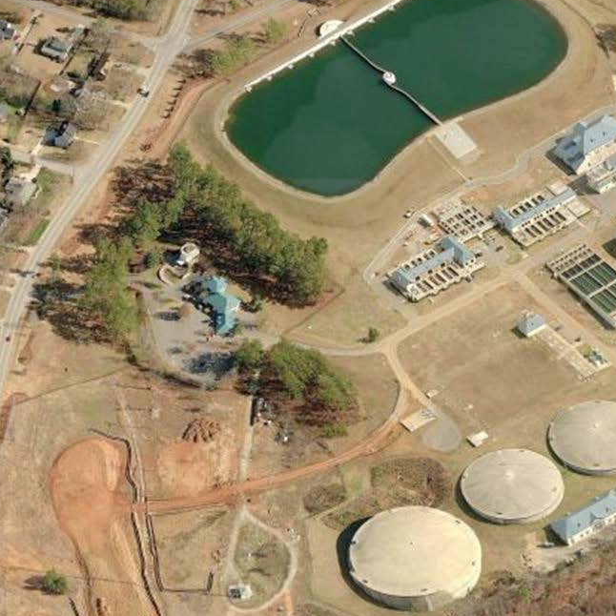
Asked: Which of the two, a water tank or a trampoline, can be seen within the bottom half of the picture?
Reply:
water tank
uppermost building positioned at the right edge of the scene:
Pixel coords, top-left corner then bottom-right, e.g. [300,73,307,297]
[541,117,616,179]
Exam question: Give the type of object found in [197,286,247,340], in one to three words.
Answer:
building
